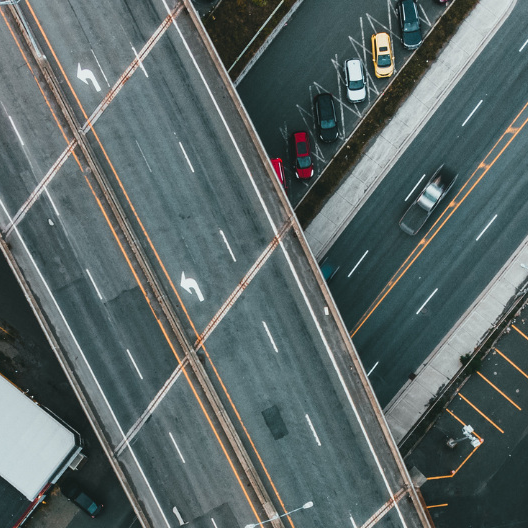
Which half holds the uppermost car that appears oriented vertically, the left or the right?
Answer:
right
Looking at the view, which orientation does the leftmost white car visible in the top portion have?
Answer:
up and down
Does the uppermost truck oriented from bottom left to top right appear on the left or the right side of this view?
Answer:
right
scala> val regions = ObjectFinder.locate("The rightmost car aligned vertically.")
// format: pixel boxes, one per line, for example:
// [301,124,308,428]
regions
[396,0,424,52]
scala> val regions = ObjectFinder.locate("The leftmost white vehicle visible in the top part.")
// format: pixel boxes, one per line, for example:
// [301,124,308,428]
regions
[343,56,368,105]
